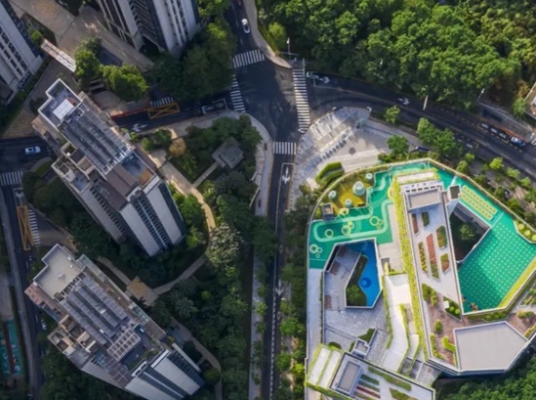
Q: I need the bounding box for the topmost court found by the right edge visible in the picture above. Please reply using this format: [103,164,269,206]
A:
[396,161,516,226]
